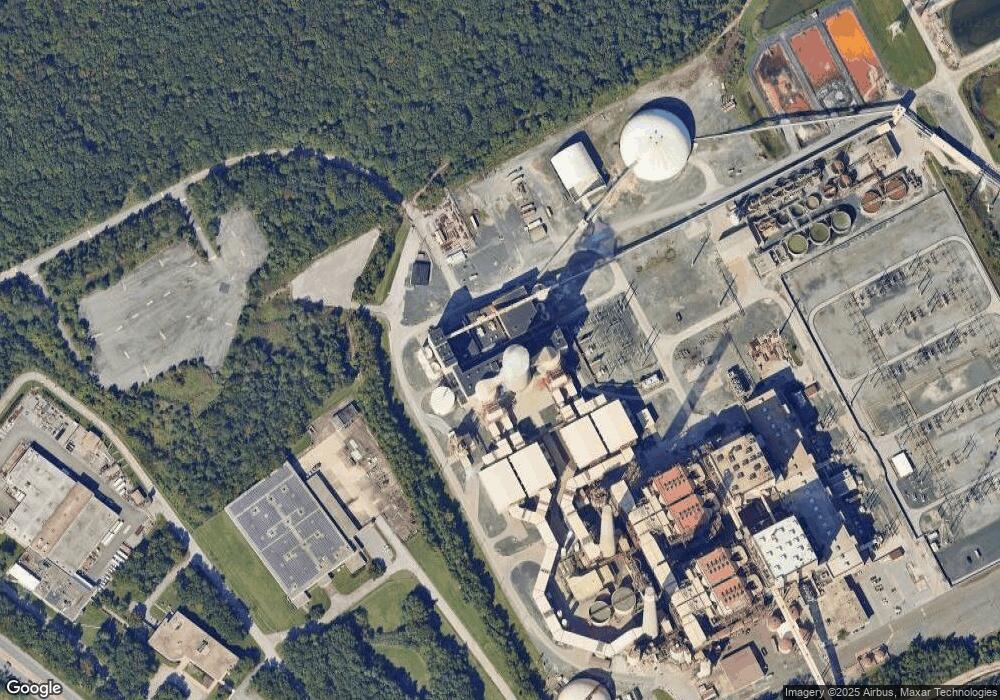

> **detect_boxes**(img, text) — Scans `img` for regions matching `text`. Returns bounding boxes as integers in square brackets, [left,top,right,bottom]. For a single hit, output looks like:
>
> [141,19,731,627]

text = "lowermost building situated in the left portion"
[149,611,239,692]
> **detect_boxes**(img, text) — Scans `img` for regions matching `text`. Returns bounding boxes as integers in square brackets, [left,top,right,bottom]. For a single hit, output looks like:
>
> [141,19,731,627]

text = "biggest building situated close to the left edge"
[3,447,120,573]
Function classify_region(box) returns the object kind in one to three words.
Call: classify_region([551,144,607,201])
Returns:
barn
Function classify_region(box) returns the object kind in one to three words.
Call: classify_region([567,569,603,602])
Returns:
building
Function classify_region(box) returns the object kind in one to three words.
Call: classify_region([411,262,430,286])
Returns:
shed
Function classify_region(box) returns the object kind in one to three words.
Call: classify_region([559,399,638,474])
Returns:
house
